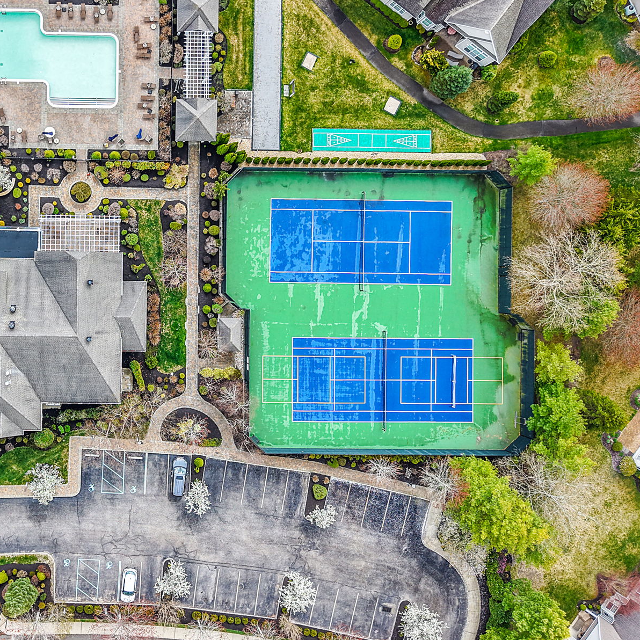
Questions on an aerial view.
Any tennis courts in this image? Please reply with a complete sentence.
Yes, the photo shows a tennis court.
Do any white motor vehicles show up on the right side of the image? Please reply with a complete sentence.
No, no white motor vehicle appears on the right side of the image.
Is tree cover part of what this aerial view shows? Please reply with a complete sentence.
Yes, some tree cover is visible.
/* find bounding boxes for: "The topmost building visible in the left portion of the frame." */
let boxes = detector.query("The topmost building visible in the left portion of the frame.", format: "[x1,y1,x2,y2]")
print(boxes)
[176,0,219,40]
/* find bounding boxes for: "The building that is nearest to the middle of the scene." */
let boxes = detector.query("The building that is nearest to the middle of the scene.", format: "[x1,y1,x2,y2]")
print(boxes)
[216,317,242,352]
